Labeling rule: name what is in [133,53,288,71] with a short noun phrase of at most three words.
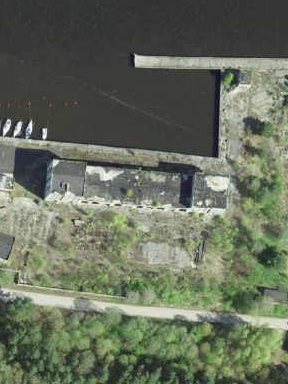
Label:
pier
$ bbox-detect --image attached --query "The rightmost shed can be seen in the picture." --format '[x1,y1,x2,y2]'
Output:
[262,289,287,304]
